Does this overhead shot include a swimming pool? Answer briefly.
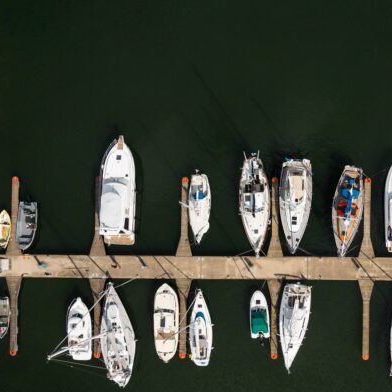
No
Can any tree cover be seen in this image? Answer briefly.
No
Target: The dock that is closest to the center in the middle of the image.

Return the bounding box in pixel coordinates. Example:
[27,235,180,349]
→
[175,175,194,257]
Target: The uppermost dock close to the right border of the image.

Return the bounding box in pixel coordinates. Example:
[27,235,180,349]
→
[359,176,377,257]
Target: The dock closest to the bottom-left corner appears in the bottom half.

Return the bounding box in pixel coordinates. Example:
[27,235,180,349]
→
[5,279,23,356]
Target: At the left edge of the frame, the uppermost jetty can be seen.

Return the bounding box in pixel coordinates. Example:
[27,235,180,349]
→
[5,176,23,255]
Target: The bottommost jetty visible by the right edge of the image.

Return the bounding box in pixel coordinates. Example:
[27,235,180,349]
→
[357,281,375,360]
